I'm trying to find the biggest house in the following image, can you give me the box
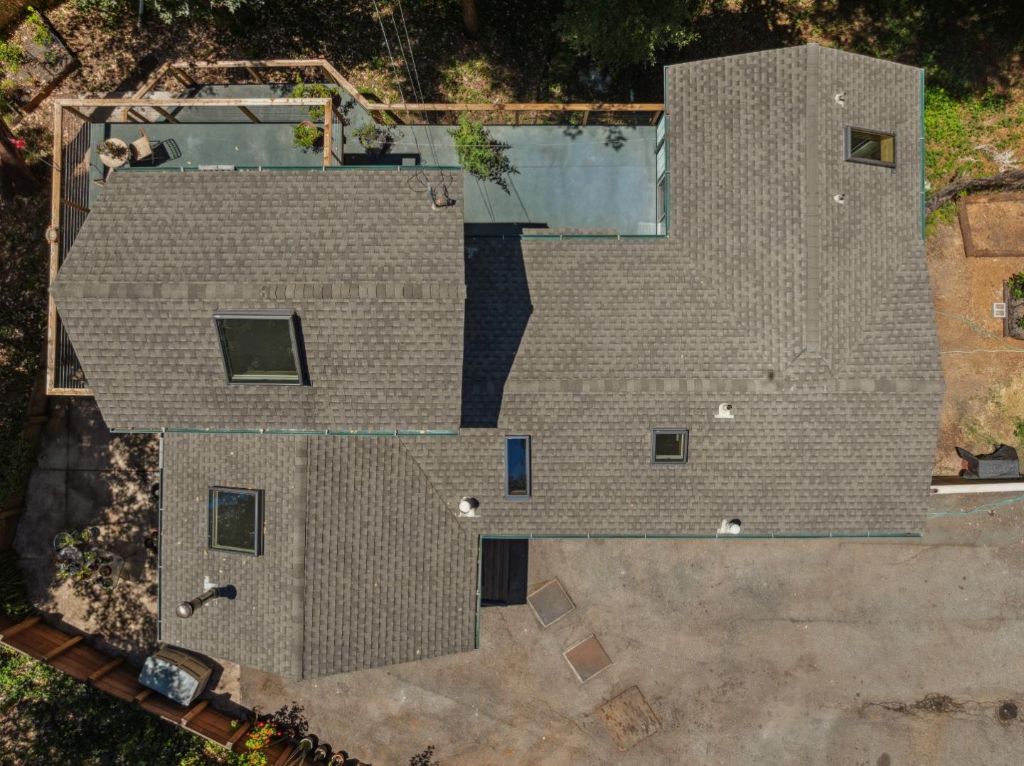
[52,42,950,678]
